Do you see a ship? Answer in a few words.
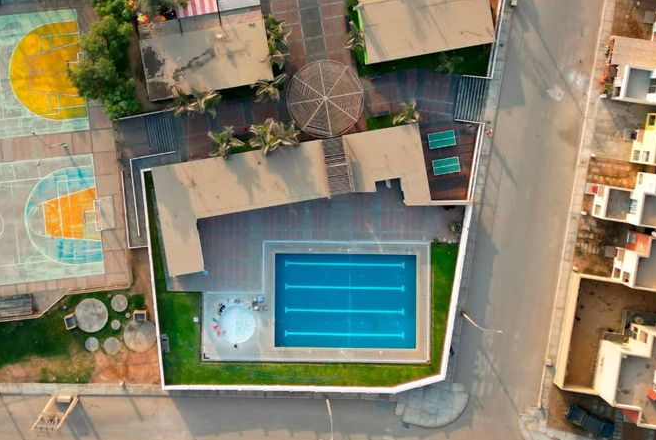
No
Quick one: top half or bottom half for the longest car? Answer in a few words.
bottom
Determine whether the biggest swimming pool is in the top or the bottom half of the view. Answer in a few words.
bottom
